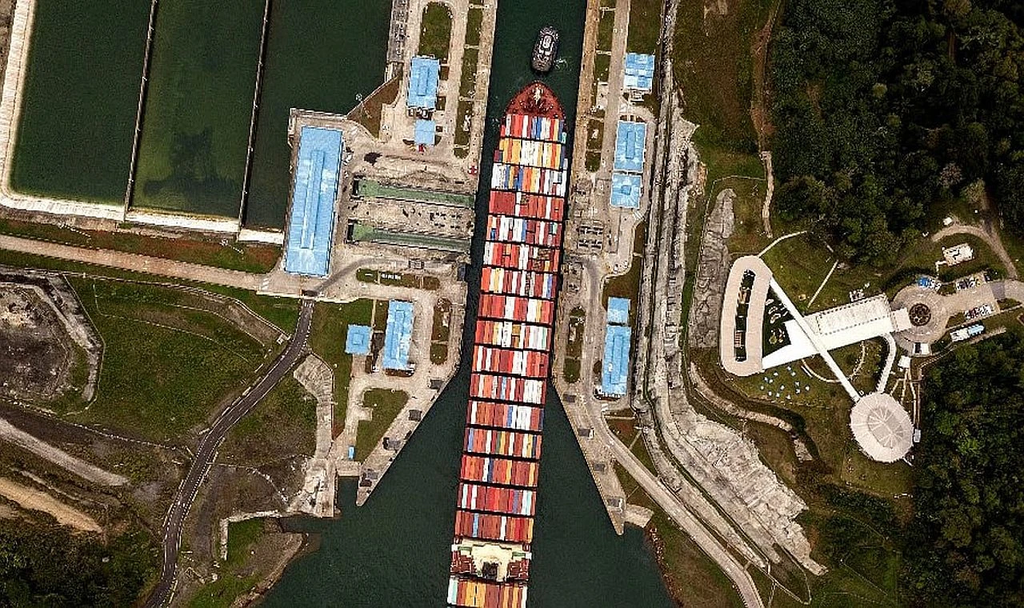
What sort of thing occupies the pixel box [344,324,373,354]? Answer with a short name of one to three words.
building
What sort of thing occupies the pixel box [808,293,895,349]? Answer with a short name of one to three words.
building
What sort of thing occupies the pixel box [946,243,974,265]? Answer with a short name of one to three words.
house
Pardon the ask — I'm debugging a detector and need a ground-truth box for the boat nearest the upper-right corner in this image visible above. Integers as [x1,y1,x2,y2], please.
[532,25,558,75]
